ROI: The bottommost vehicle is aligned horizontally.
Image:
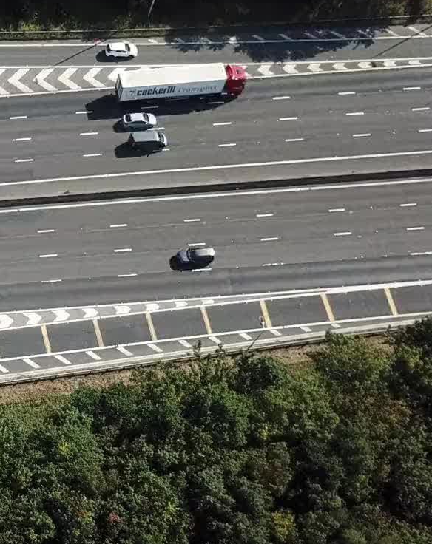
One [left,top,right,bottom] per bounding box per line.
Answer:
[177,246,218,266]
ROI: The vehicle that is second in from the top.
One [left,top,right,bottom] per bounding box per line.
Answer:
[113,66,244,107]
